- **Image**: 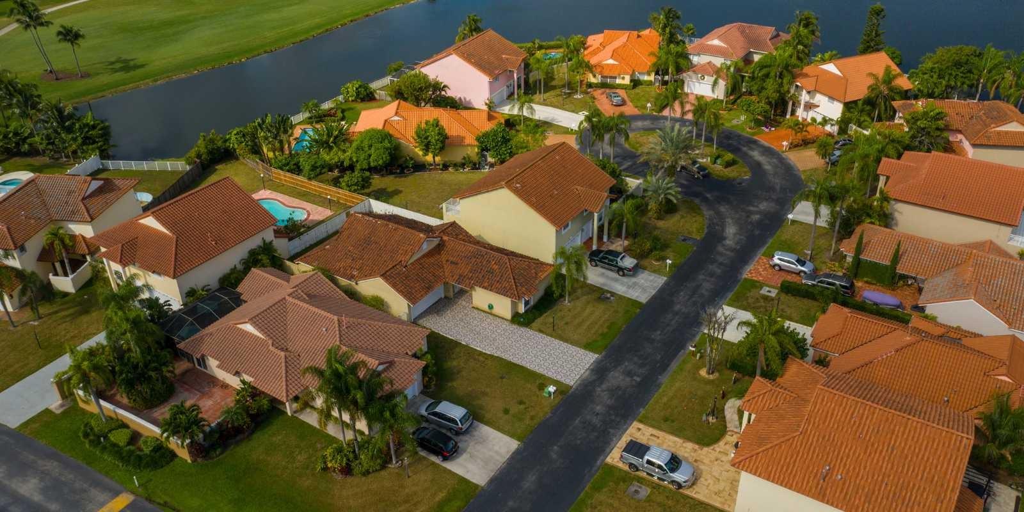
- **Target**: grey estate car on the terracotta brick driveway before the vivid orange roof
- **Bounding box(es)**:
[605,88,625,104]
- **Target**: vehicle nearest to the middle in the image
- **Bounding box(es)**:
[586,247,640,275]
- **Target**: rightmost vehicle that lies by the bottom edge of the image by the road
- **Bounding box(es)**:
[620,437,699,487]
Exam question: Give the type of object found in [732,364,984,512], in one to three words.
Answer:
house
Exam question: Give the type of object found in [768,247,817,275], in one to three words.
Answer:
car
